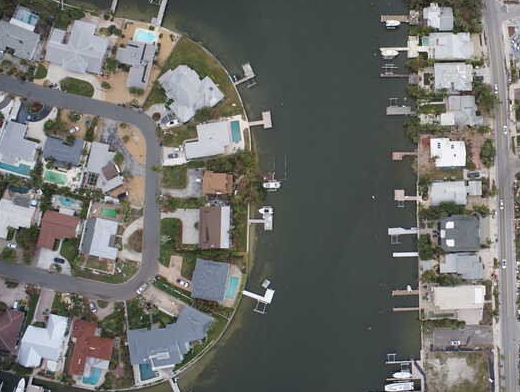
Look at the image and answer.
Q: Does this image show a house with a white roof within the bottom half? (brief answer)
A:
Yes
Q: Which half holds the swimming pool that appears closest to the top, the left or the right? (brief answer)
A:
left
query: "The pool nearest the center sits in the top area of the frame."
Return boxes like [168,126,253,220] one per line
[228,115,247,153]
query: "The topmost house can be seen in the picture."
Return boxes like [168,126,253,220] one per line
[423,3,454,31]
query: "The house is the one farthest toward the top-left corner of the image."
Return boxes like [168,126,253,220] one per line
[0,17,43,64]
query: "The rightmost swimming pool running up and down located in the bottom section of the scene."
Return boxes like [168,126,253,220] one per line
[226,263,245,302]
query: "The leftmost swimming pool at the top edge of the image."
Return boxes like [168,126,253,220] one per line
[10,5,40,27]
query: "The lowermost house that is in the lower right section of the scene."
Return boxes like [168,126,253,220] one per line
[434,285,486,324]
